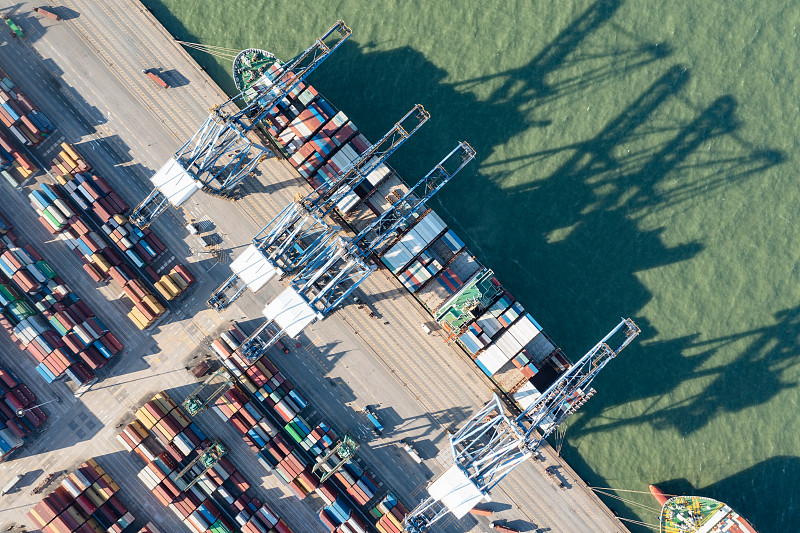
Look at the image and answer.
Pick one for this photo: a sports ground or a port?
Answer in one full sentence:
It's a port.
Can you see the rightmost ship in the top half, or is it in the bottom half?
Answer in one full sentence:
The rightmost ship is in the bottom half of the image.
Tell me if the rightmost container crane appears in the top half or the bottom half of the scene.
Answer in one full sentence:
The bottom half of the photo is where the rightmost container crane is.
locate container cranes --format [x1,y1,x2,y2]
[180,363,242,418]
[173,431,237,492]
[200,101,434,318]
[309,426,361,485]
[234,139,479,367]
[123,16,356,234]
[398,317,643,533]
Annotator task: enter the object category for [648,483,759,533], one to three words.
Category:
ship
